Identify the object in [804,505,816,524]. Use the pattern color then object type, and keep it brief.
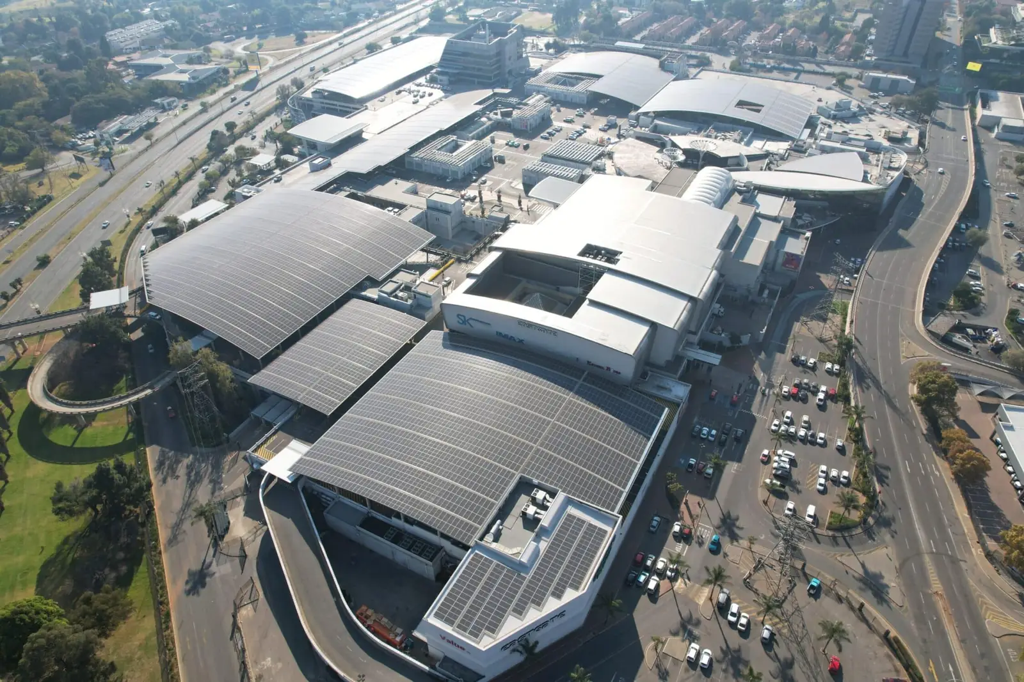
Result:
white vehicle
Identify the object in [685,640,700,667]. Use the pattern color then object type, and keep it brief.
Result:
white car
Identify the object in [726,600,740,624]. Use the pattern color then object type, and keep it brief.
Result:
white car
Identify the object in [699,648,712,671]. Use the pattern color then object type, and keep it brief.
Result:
white vehicle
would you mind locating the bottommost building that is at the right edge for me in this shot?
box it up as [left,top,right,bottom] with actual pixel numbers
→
[978,404,1024,519]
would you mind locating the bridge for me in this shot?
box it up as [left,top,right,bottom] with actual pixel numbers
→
[0,296,171,361]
